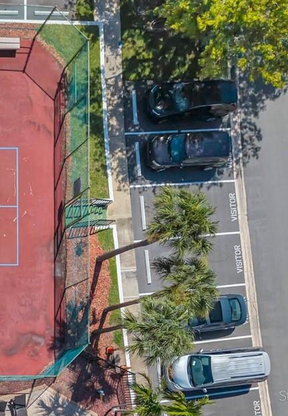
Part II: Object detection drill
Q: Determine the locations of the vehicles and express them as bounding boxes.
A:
[139,72,238,124]
[139,126,234,174]
[163,349,271,393]
[186,292,260,337]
